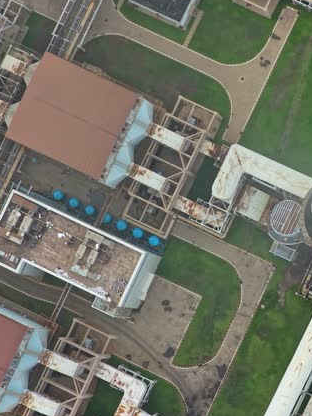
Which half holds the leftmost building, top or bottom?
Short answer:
bottom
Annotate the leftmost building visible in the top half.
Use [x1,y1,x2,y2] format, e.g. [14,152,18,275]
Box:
[2,52,160,191]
